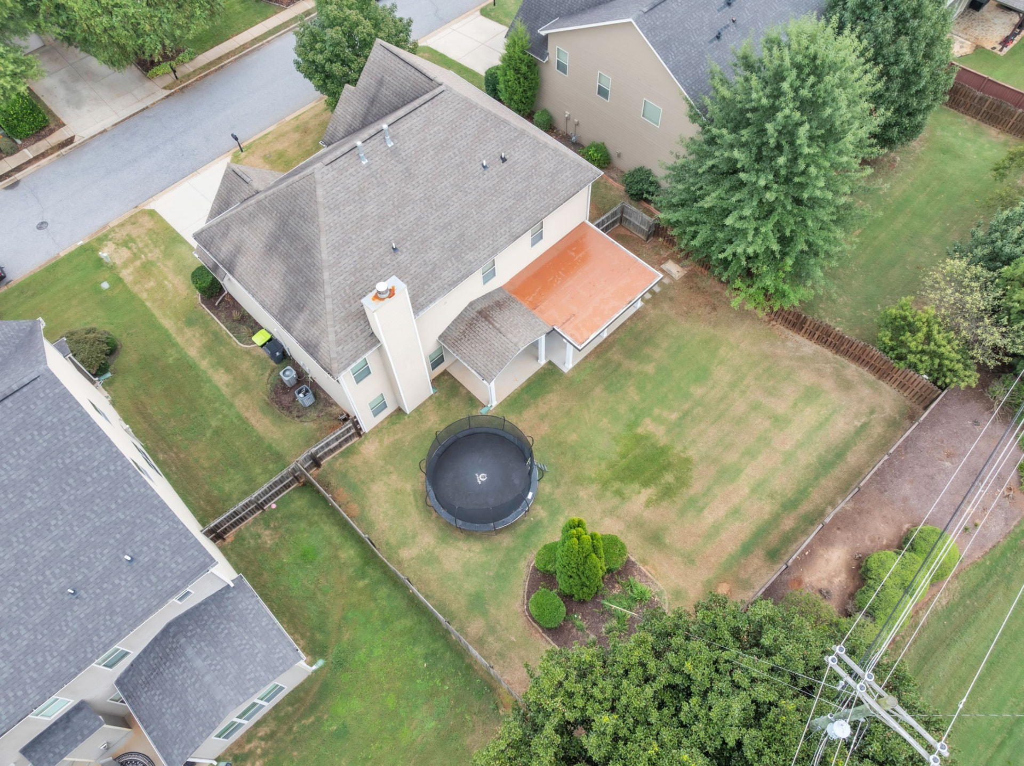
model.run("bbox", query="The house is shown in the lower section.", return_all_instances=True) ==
[0,317,320,766]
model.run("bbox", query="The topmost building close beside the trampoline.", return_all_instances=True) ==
[189,38,666,433]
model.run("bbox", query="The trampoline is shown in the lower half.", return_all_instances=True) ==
[420,411,542,534]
